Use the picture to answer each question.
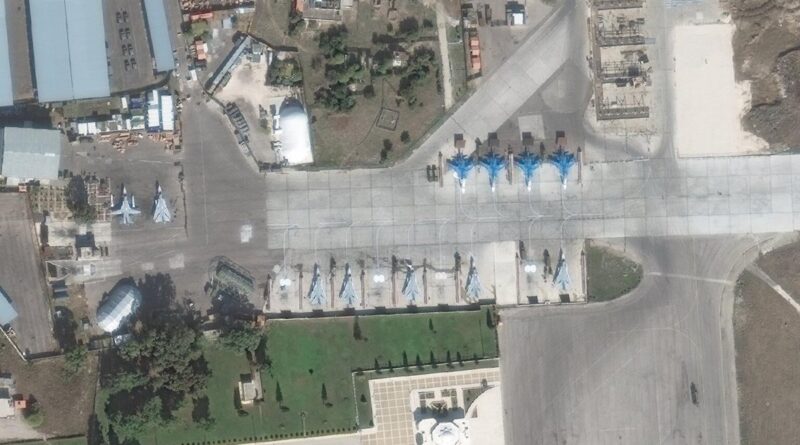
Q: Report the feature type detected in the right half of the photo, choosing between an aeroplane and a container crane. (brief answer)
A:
aeroplane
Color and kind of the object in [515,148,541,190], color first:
blue airplane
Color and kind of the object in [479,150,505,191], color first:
blue airplane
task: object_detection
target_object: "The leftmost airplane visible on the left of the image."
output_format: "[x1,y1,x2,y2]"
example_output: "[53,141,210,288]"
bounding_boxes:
[112,184,140,223]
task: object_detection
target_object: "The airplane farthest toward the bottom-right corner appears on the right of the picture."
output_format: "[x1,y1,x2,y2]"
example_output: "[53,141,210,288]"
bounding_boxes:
[556,253,573,290]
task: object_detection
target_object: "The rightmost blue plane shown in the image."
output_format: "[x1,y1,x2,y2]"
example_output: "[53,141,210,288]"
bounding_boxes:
[550,147,576,189]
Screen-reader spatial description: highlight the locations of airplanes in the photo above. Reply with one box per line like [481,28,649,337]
[556,253,573,290]
[550,147,576,189]
[112,184,140,223]
[311,264,329,304]
[479,150,505,191]
[342,265,359,305]
[515,148,541,190]
[404,264,421,303]
[468,262,485,301]
[155,184,172,223]
[448,151,474,193]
